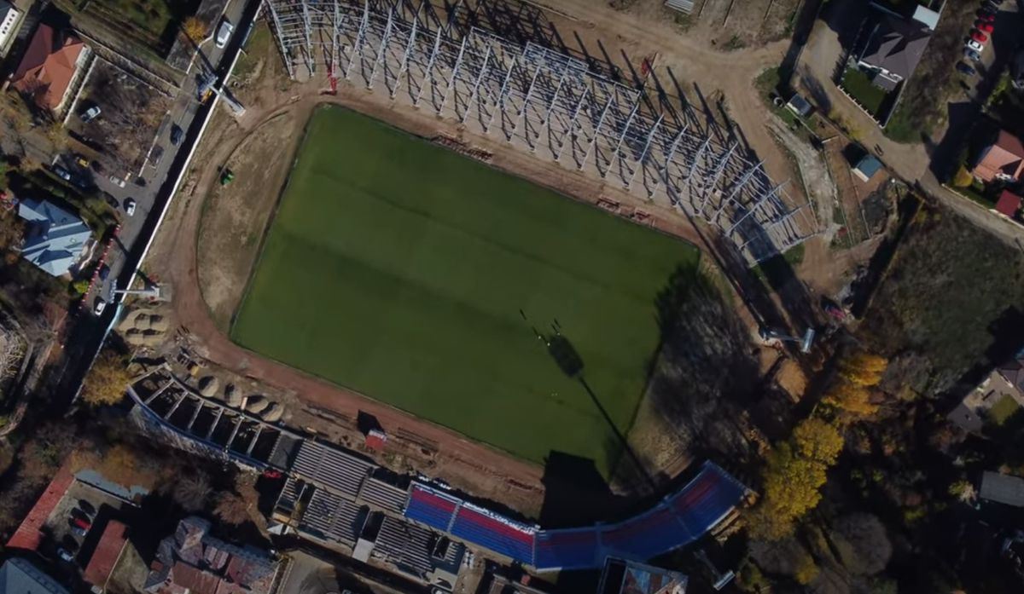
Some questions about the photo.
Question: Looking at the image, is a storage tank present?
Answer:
No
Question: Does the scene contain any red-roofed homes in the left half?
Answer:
Yes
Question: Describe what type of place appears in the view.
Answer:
sports ground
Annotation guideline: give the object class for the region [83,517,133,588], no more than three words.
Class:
house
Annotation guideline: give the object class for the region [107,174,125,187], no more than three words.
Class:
vehicle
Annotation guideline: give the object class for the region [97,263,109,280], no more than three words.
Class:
vehicle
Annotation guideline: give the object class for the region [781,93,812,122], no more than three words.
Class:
shed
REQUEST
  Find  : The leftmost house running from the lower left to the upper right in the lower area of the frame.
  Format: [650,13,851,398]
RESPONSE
[6,461,82,549]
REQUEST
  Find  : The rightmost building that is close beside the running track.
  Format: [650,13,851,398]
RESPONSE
[591,551,688,594]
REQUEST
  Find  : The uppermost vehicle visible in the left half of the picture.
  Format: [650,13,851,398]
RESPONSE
[212,18,232,47]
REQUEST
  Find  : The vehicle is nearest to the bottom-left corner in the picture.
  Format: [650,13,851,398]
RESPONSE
[56,548,73,561]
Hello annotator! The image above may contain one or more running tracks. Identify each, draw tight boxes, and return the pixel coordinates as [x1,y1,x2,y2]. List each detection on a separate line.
[174,86,773,513]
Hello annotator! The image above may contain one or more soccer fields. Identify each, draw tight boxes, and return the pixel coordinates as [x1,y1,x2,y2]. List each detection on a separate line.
[232,106,699,478]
